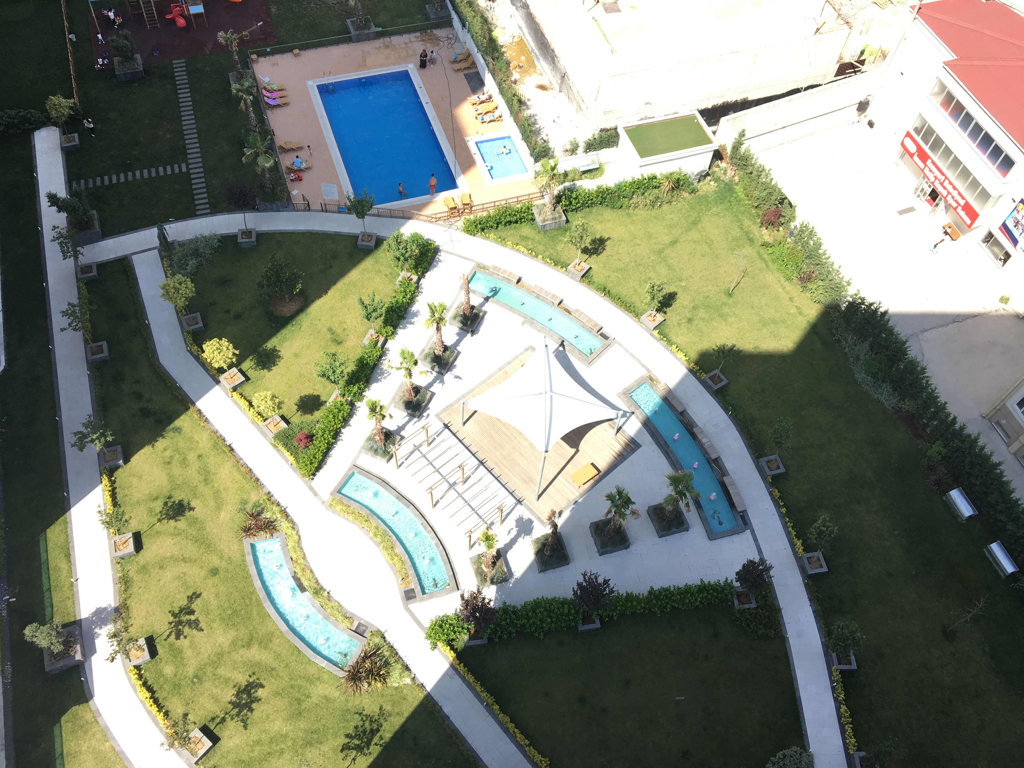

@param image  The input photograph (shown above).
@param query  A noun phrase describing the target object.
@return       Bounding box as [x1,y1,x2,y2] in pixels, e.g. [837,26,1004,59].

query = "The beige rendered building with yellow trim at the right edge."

[981,376,1024,469]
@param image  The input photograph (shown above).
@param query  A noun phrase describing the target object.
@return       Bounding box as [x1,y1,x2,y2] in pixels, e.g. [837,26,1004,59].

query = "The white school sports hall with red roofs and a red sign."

[867,0,1024,326]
